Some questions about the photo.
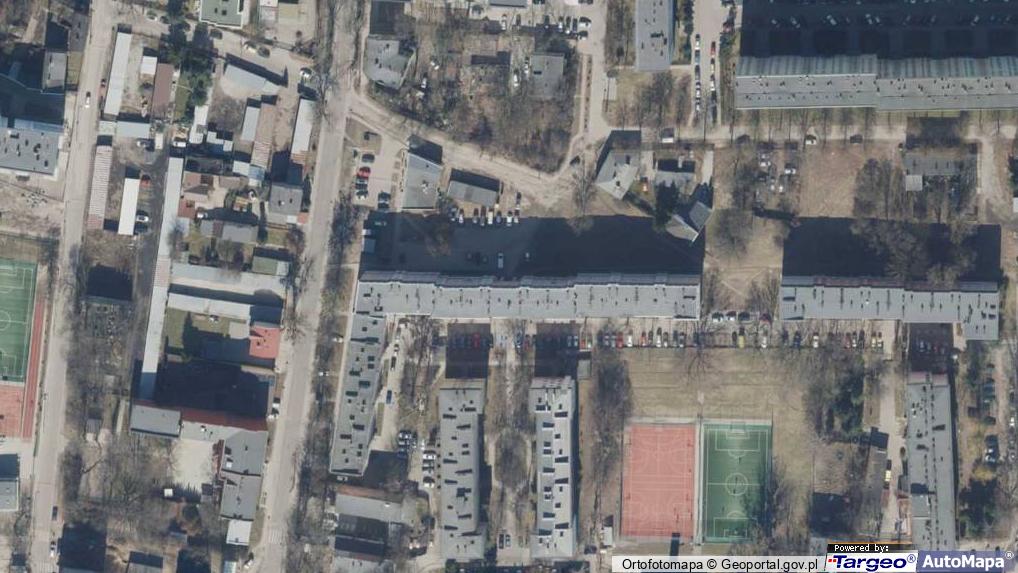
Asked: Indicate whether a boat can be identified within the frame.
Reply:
No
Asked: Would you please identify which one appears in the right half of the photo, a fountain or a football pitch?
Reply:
football pitch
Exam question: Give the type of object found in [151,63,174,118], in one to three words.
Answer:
shed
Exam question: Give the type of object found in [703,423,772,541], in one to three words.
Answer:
soccer field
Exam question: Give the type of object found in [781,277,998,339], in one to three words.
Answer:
building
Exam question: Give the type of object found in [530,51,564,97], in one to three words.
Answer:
house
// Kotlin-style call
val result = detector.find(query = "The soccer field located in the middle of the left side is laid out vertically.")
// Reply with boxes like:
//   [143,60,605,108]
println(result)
[0,262,38,382]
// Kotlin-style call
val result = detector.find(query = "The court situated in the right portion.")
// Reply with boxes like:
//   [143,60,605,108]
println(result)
[621,424,695,537]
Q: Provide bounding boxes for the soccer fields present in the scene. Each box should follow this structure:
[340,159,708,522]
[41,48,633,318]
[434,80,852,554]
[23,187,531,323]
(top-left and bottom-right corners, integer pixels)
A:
[703,423,772,541]
[0,262,38,382]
